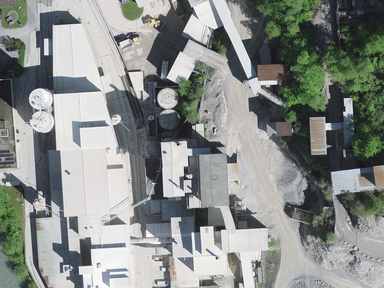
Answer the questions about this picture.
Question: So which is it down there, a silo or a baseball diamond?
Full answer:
I can see a silo in this picture.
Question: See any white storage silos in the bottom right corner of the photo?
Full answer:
No, no white storage silo appears in the bottom right corner of the photo.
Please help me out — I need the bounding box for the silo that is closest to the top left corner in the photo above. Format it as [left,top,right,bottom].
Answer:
[29,88,53,112]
